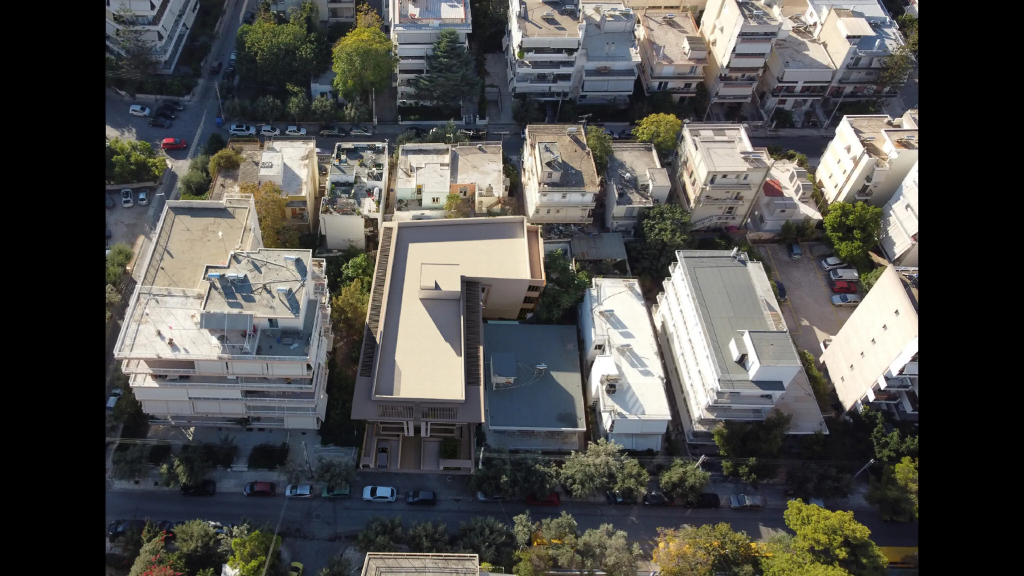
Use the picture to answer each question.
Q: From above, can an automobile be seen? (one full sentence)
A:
Yes, looking at the shot, I can spot an automobile.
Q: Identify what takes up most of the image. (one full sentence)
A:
The largest share of the image is taken up by buildings.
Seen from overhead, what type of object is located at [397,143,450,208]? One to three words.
house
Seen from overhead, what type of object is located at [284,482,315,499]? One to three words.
car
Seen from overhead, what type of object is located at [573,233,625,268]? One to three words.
shed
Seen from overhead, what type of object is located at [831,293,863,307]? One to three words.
car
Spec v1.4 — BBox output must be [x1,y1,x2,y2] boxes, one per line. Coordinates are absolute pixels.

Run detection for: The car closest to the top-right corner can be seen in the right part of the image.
[807,111,819,128]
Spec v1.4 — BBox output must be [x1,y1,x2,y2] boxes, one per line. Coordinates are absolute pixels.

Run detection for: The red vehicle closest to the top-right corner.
[830,281,859,294]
